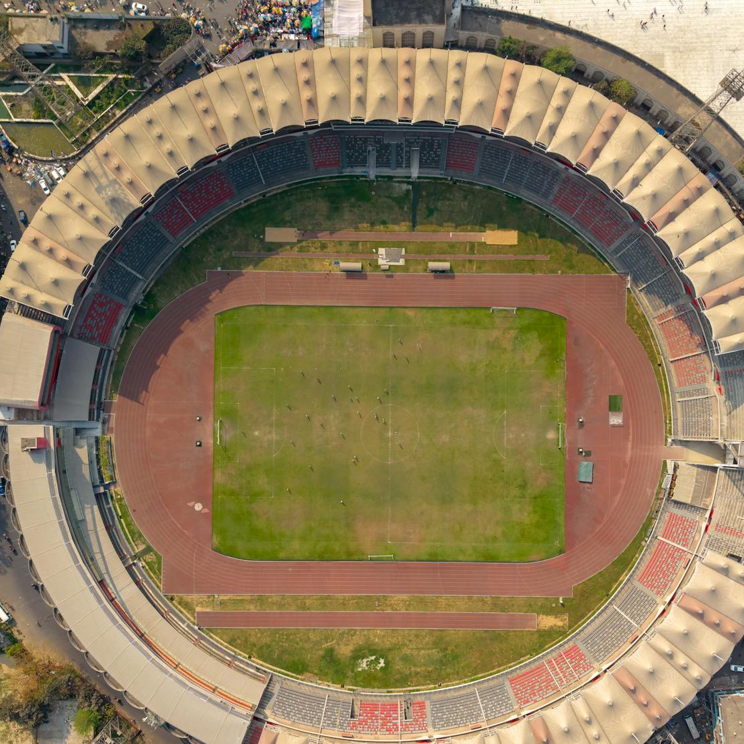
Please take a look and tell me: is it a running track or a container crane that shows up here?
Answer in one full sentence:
The one in the frame is a running track.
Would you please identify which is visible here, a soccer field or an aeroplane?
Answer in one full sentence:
There is a soccer field in the scene.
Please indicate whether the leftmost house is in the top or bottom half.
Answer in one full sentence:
You can find the leftmost house in the top half.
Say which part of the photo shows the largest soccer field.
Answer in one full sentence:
The largest soccer field appears toward the center of the photo.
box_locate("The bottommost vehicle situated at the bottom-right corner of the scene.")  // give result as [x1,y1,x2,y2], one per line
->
[681,712,700,739]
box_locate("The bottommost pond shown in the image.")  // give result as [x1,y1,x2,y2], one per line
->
[0,122,75,158]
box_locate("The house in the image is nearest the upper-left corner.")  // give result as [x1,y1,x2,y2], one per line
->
[9,18,71,59]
